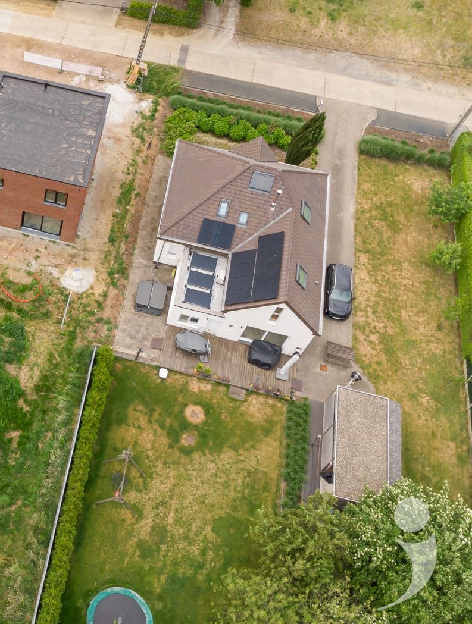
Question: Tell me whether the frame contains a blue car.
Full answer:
No, there appears to be no blue car in this shot.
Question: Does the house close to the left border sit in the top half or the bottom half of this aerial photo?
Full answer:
Seen from above, the house close to the left border lies in the top half of the view.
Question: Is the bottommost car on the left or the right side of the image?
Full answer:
You can find the bottommost car on the right side of the picture.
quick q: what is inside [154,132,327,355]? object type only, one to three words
house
